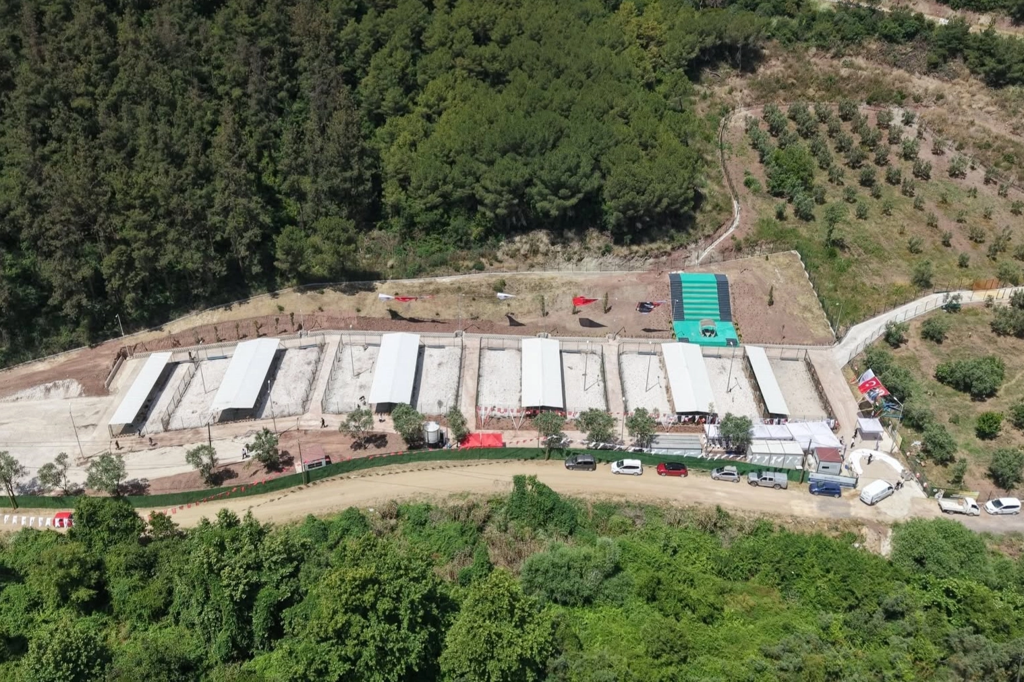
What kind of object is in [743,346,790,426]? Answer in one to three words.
shed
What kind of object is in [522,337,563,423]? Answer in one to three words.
shed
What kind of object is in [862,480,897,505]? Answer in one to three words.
vehicle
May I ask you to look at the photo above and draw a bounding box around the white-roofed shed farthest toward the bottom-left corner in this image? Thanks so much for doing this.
[109,352,175,443]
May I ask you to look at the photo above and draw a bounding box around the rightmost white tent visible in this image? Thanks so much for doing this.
[855,418,883,442]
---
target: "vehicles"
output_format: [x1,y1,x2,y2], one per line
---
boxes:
[565,453,597,471]
[942,497,982,516]
[711,465,742,483]
[983,498,1024,515]
[746,470,786,489]
[657,461,689,477]
[610,459,643,476]
[862,480,897,505]
[810,481,843,498]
